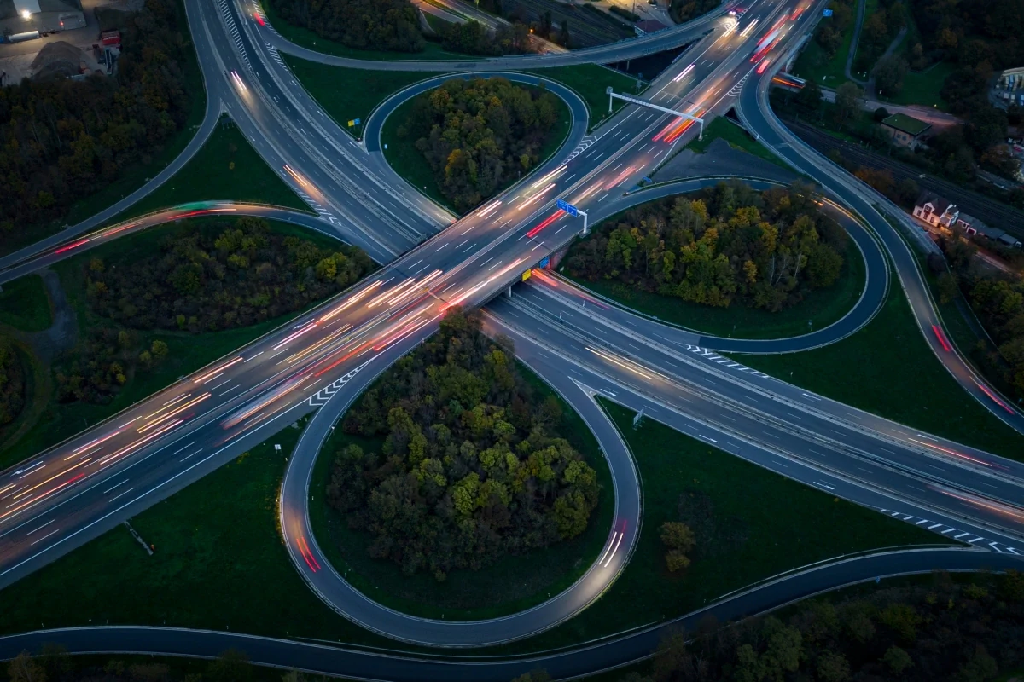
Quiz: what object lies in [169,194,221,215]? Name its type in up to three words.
truck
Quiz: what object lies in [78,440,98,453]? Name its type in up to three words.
vehicle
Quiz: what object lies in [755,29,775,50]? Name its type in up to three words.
vehicle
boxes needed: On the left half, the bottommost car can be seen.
[299,543,314,562]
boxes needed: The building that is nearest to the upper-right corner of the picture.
[883,123,930,156]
